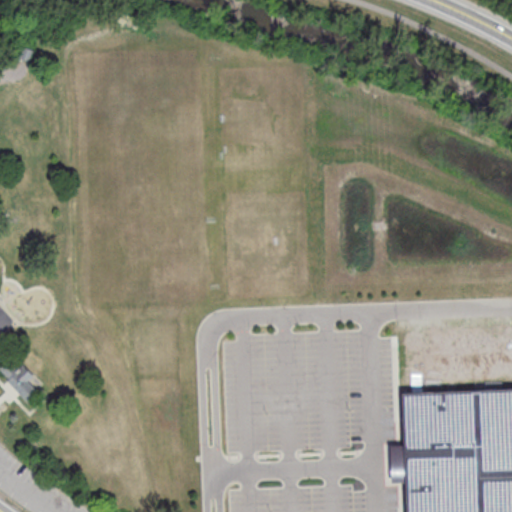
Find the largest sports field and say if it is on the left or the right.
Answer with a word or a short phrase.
left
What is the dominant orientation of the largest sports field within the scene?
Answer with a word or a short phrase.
up and down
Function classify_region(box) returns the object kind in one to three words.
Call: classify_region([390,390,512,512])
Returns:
building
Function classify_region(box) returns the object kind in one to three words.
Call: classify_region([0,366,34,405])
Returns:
house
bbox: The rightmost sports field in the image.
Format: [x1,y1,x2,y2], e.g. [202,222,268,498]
[224,64,308,297]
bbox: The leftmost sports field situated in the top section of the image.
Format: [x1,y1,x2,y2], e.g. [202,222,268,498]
[77,48,207,305]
